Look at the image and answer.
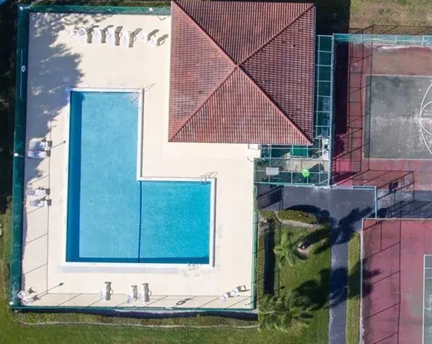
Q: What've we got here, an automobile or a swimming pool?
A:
swimming pool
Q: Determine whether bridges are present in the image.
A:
No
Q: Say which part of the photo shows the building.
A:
top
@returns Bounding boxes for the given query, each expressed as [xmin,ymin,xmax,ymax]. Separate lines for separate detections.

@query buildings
[168,0,316,146]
